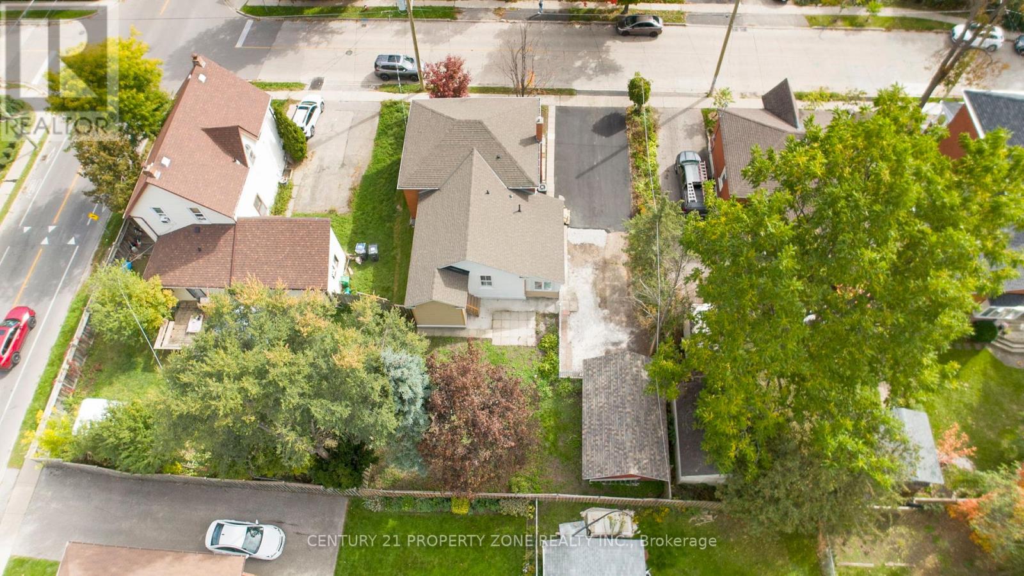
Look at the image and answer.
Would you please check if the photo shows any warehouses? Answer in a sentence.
No, the picture doesn't show any warehouse.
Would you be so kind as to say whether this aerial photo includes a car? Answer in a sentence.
Yes, a car appears in the view.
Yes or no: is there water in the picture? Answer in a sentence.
No, the scene doesn't show any water.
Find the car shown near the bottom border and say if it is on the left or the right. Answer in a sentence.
You can find the car shown near the bottom border on the left side of the picture.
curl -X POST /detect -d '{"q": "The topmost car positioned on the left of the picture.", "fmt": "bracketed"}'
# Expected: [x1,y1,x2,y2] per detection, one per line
[373,58,423,83]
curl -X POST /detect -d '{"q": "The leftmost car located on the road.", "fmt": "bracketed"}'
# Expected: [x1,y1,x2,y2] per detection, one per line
[0,312,40,369]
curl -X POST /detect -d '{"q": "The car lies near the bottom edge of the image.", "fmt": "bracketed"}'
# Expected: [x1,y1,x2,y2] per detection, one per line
[205,522,286,560]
